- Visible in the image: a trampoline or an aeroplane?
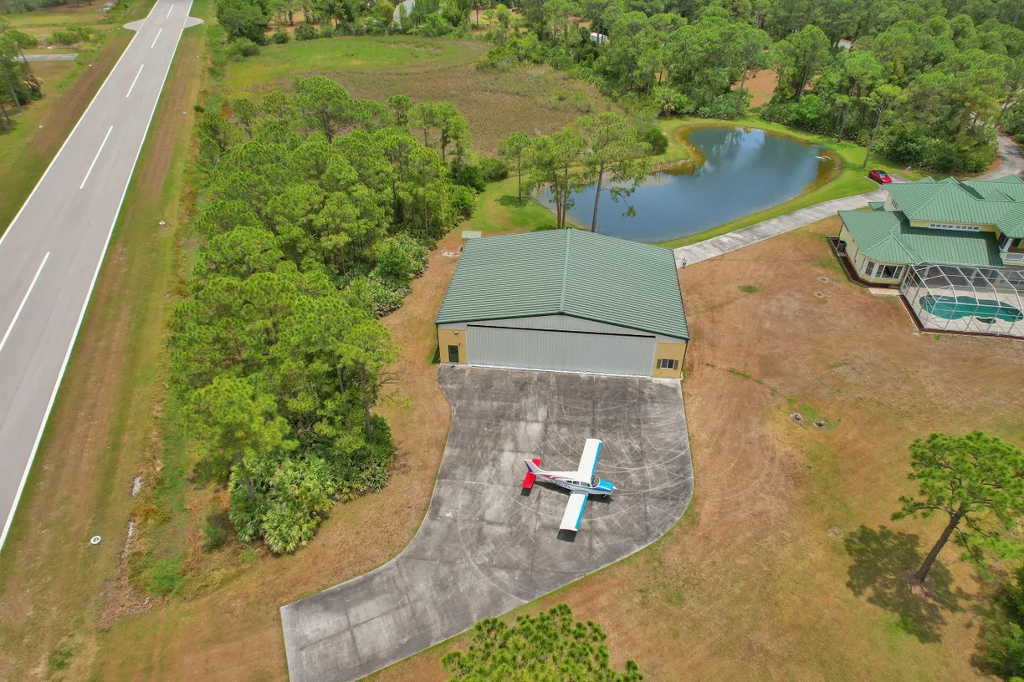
aeroplane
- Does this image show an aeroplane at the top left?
No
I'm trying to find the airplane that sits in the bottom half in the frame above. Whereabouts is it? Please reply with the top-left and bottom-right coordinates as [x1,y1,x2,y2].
[524,438,617,532]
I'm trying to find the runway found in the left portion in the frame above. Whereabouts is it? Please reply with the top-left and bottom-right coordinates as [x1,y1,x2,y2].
[0,0,192,565]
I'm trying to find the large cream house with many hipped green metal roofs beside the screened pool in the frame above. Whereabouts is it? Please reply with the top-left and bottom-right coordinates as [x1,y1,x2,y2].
[834,162,1024,291]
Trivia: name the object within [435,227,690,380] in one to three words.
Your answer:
hangar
